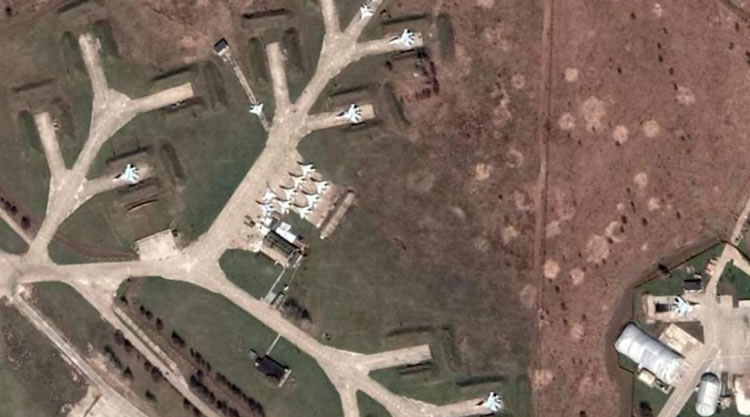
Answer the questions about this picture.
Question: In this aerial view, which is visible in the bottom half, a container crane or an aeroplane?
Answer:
aeroplane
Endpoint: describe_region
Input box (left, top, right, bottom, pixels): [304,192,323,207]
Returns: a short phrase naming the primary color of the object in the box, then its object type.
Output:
white airplane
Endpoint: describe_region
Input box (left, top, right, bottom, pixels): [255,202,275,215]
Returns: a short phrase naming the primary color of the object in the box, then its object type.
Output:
white airplane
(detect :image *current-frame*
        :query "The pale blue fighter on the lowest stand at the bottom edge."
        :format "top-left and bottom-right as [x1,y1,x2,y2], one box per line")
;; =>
[474,392,502,410]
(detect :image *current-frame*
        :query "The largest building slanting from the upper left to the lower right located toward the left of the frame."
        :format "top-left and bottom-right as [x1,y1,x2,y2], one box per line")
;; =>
[264,228,299,259]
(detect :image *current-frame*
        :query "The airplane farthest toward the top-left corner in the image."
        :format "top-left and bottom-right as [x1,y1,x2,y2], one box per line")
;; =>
[113,164,139,183]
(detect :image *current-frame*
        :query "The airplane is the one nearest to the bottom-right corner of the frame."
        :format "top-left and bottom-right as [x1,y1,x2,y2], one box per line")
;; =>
[672,298,700,317]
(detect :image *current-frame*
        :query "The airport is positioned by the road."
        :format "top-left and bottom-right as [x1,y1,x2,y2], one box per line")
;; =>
[0,0,498,417]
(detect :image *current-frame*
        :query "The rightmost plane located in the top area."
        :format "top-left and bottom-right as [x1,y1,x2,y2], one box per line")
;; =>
[387,30,415,49]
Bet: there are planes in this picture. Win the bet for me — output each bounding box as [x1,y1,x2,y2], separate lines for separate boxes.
[312,180,332,194]
[262,185,277,205]
[474,392,502,410]
[297,165,317,179]
[294,204,314,218]
[387,30,415,49]
[279,186,298,200]
[672,298,700,317]
[255,202,275,215]
[334,104,363,123]
[289,174,308,188]
[249,99,263,119]
[113,164,139,183]
[275,199,294,213]
[304,192,323,207]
